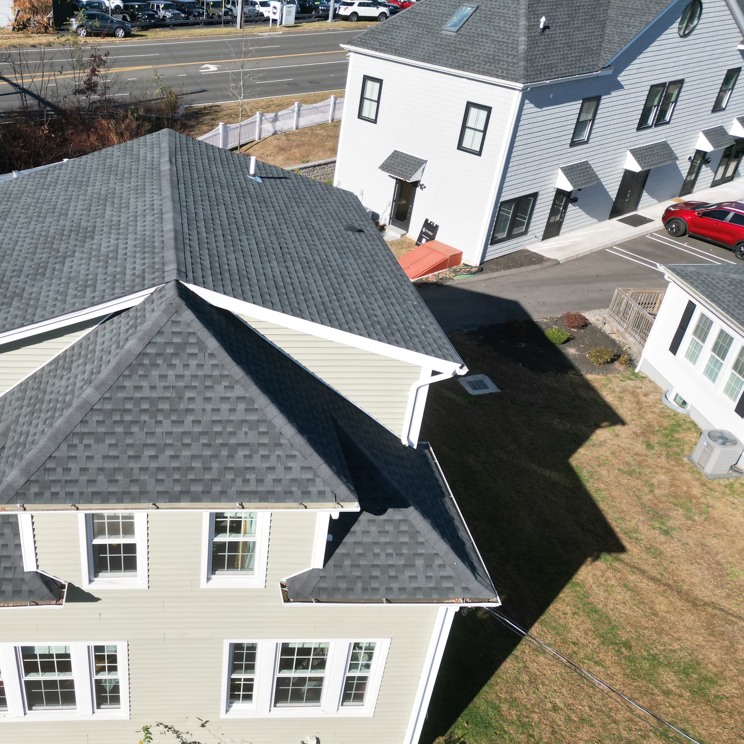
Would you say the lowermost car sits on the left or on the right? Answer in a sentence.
You can find the lowermost car on the right side of the picture.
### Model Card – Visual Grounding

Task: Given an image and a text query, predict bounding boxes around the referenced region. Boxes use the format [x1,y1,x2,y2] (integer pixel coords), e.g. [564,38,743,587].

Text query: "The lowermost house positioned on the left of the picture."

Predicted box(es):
[0,127,503,744]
